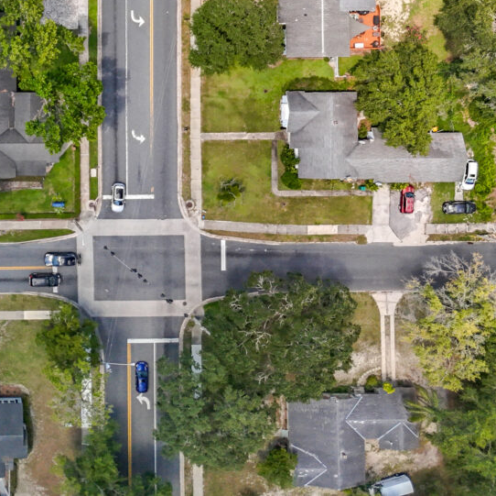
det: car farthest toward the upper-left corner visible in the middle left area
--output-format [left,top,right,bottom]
[111,181,126,211]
